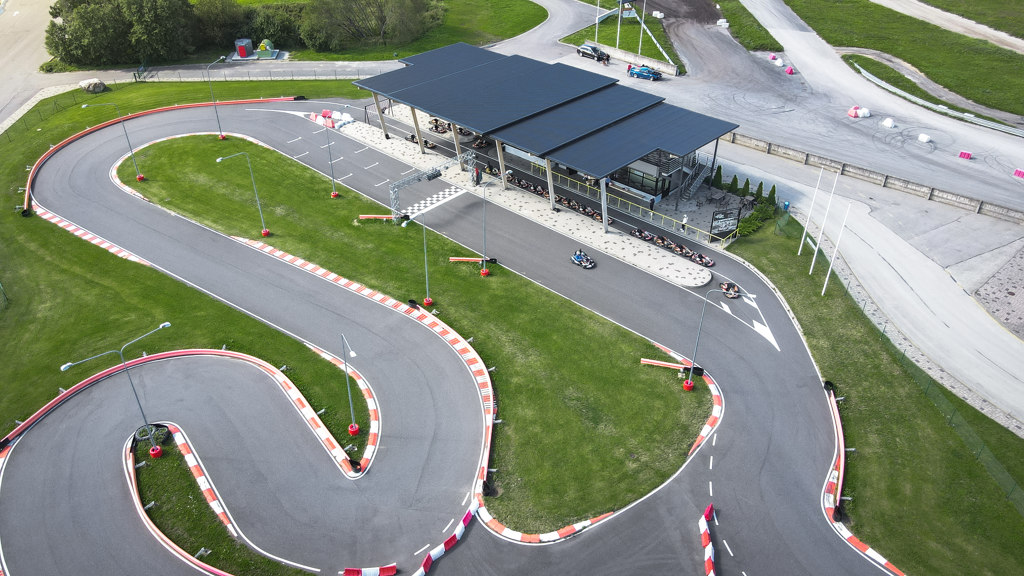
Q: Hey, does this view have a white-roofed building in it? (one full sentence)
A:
No, the frame has no white-roofed building in it.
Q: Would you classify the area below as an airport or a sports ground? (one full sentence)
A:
What you see here is a sports ground.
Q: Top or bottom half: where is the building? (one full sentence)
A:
Seen from above, the building lies in the top half of the view.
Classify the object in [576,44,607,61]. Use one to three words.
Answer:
car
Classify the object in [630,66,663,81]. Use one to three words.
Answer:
car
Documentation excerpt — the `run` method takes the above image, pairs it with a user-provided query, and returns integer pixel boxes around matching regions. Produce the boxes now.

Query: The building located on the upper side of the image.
[351,42,740,233]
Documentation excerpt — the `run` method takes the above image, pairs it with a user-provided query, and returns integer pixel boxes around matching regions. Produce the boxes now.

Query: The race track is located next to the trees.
[0,95,900,576]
